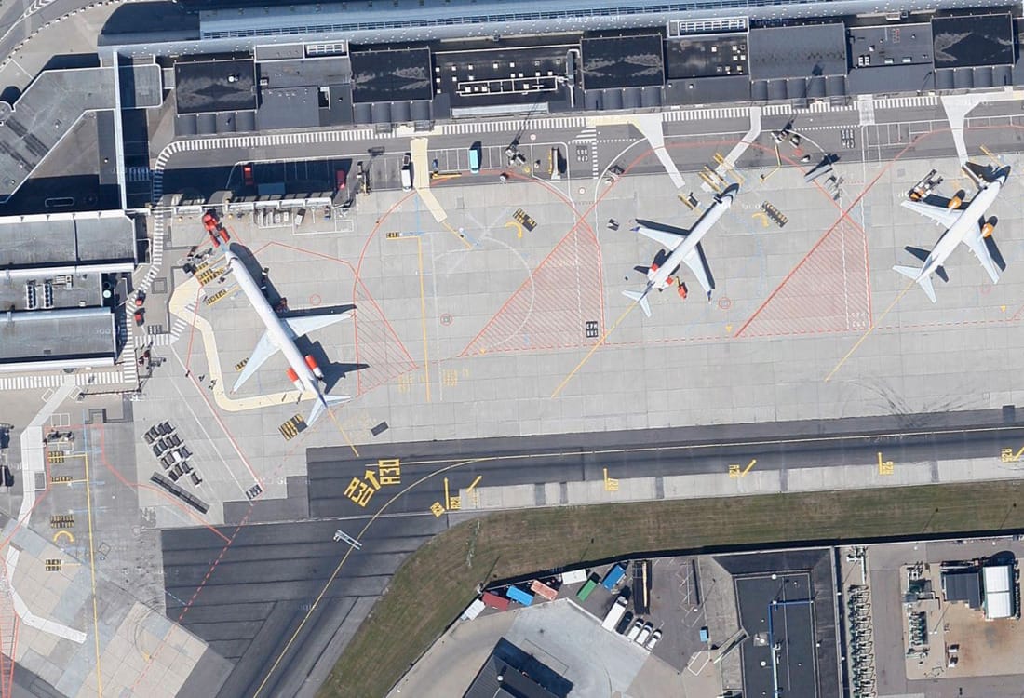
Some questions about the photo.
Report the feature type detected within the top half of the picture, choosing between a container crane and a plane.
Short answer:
plane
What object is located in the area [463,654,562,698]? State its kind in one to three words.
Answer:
shed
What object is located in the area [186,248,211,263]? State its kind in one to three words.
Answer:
work vehicle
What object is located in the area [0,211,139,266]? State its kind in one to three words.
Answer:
building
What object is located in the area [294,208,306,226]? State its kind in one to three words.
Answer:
vehicle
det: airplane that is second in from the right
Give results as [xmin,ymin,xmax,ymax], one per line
[623,185,739,316]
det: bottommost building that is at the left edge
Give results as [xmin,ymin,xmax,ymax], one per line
[0,307,117,372]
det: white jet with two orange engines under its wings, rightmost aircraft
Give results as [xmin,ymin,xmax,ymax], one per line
[894,166,1010,302]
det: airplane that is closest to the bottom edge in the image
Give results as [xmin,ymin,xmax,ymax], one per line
[226,253,353,424]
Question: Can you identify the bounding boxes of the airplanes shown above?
[623,185,739,316]
[894,166,1010,302]
[226,253,353,424]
